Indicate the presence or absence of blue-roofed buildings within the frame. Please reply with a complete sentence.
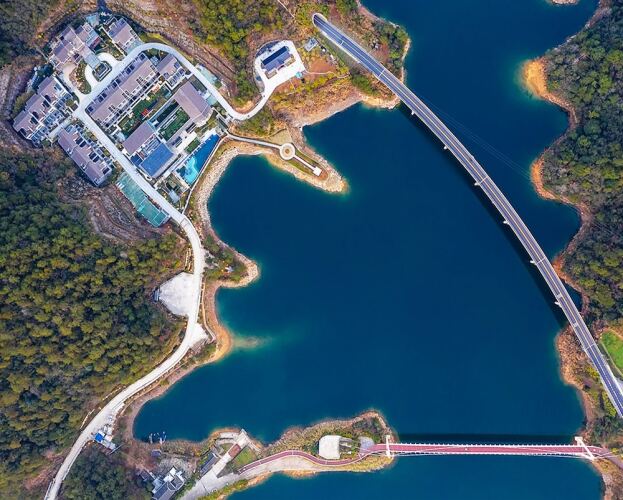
Yes, there's a blue-roofed building down there.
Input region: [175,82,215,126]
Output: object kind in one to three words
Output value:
building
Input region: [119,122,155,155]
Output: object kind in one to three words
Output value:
building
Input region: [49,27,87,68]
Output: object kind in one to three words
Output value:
house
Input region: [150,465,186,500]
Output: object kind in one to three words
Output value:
house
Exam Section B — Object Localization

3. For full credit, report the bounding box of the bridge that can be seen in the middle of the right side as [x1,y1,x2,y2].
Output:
[306,7,623,424]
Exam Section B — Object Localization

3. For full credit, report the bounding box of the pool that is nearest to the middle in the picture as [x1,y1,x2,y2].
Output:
[178,133,222,186]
